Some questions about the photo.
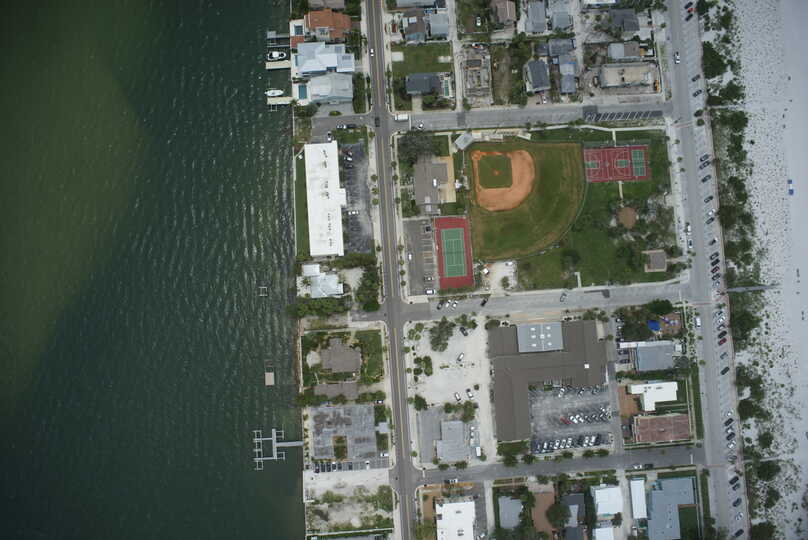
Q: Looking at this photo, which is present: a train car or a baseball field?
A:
baseball field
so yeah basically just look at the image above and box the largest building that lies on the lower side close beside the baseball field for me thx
[488,321,608,441]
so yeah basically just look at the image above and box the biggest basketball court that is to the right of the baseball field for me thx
[585,146,634,182]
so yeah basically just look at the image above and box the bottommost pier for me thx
[253,429,304,461]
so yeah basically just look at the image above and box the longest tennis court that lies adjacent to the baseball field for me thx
[434,216,476,291]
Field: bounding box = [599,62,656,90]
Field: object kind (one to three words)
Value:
building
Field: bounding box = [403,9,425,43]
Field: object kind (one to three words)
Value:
house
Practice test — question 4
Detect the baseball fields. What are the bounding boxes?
[468,141,587,264]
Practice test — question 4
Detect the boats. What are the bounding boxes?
[265,89,285,96]
[267,52,286,60]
